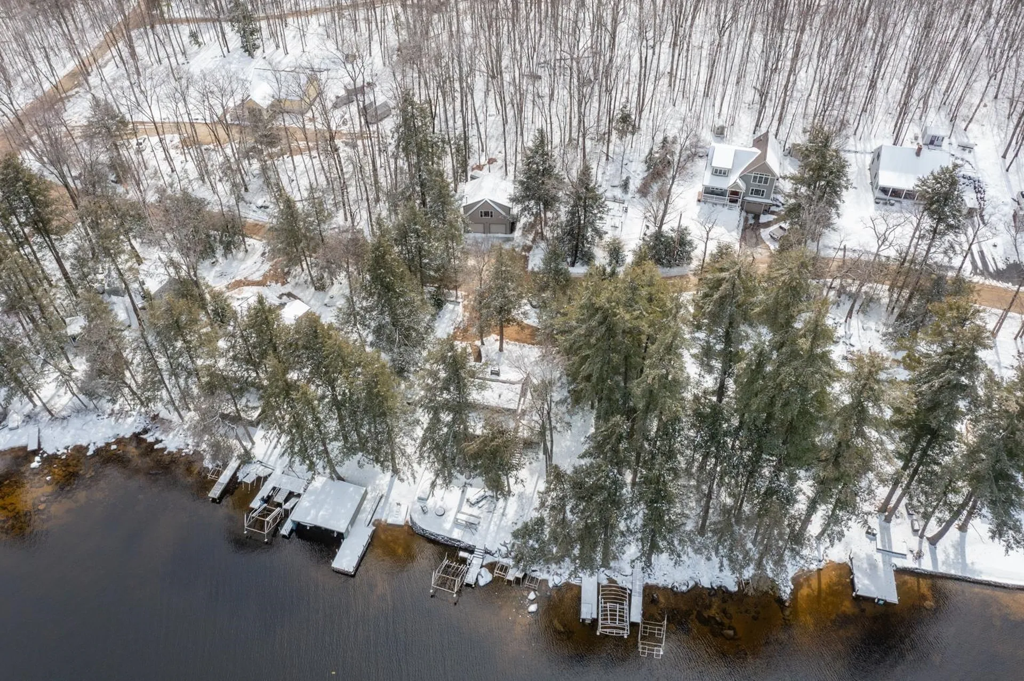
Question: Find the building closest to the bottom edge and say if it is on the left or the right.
left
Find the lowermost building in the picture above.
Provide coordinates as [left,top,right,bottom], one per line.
[292,476,371,540]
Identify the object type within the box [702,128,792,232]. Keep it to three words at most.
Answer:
house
